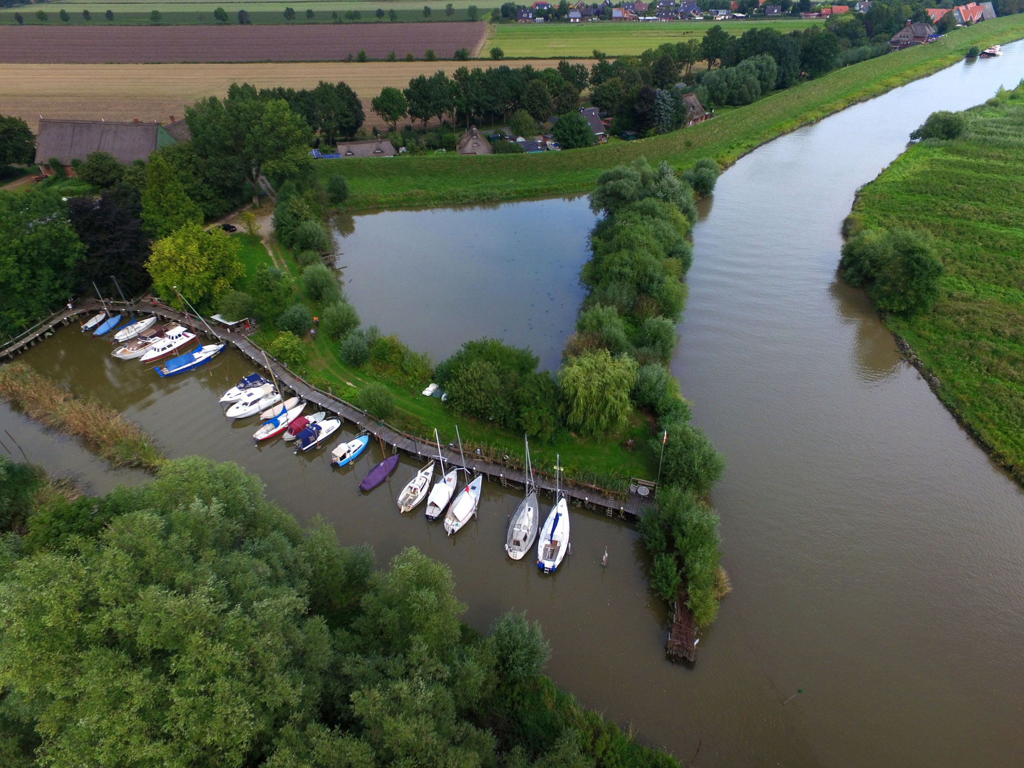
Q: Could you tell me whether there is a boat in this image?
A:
Yes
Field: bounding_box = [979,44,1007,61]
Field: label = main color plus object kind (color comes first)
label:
white boat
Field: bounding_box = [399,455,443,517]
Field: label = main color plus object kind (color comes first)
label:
white boat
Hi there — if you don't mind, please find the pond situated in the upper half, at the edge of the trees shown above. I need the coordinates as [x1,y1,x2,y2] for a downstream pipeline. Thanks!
[332,194,599,379]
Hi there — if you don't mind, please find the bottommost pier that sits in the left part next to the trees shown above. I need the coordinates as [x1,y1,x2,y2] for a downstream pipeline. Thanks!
[0,290,660,521]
